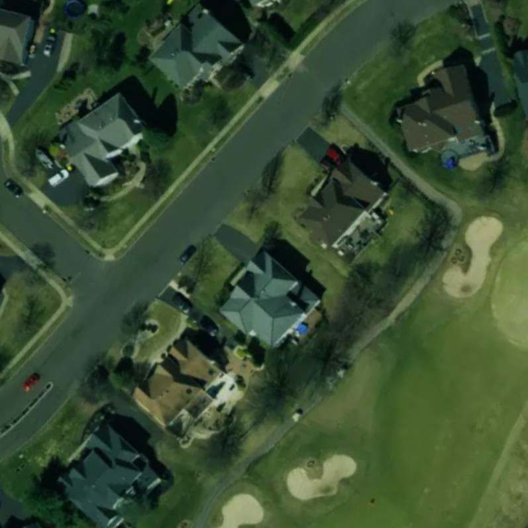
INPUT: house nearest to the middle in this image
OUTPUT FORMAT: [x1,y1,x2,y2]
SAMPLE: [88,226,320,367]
[223,252,322,351]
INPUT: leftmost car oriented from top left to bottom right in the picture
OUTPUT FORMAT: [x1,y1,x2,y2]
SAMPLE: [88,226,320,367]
[4,181,22,196]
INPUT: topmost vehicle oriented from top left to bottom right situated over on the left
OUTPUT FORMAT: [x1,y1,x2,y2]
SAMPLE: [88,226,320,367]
[36,149,53,167]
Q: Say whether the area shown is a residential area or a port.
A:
residential area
